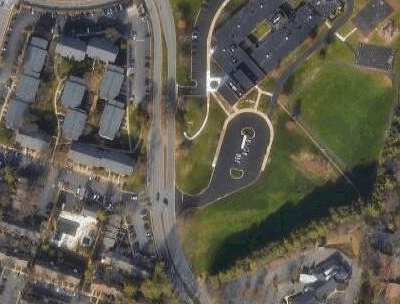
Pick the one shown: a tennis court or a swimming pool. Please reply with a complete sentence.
The one in the frame is a swimming pool.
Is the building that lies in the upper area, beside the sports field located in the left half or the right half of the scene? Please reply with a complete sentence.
The building that lies in the upper area, beside the sports field is on the right side of the image.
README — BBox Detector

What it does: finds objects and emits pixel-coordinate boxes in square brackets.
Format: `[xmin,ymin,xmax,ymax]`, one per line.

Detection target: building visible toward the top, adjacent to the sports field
[207,0,334,106]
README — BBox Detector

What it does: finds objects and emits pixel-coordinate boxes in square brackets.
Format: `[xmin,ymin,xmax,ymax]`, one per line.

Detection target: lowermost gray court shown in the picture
[357,43,395,71]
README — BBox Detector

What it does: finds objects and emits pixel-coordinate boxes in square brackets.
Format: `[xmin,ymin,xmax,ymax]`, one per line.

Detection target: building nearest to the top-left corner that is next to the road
[24,34,51,74]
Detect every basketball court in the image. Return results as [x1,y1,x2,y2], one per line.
[357,43,395,71]
[353,0,394,35]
